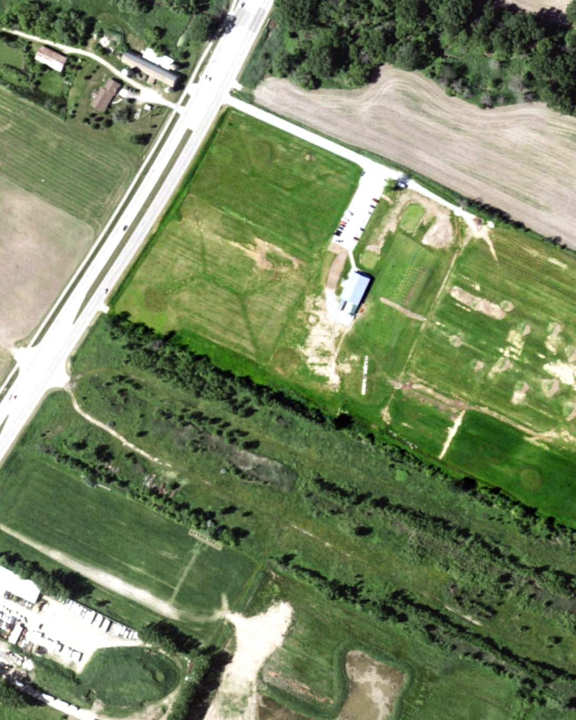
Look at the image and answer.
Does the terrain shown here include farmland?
Yes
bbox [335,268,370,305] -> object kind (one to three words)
building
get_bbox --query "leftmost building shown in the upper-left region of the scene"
[36,45,66,71]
